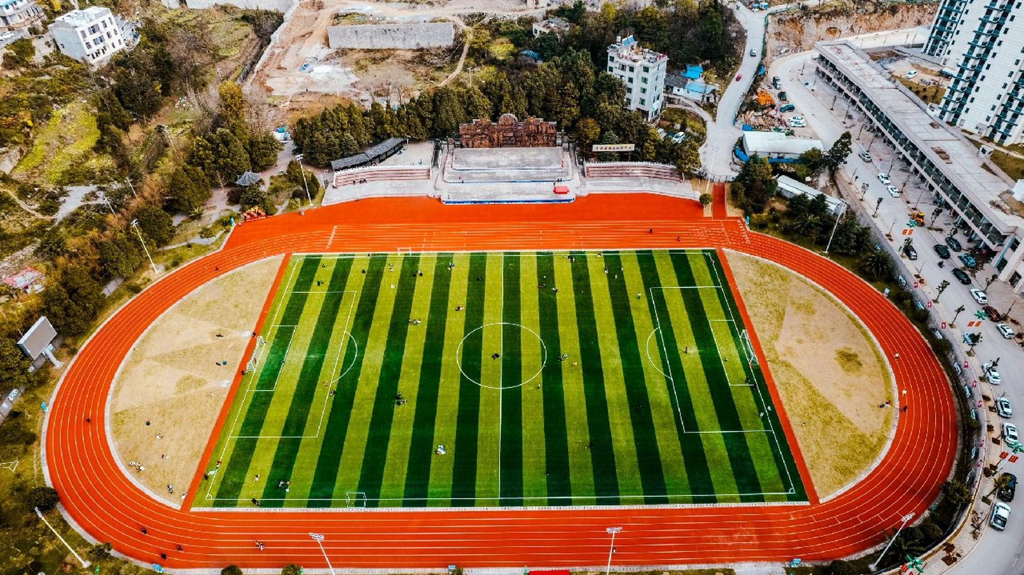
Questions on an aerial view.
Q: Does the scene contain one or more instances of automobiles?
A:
Yes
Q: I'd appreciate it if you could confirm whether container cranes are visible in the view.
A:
No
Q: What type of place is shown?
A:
sports ground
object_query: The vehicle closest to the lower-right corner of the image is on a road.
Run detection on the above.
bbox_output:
[992,502,1013,534]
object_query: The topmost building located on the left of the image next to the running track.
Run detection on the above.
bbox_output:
[328,129,405,175]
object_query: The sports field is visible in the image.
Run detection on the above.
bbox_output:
[192,249,810,509]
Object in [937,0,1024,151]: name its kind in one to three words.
building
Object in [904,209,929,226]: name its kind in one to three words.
work vehicle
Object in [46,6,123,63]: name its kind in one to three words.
house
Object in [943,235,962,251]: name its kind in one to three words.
car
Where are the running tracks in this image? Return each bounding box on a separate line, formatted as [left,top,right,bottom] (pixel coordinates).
[41,185,963,575]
